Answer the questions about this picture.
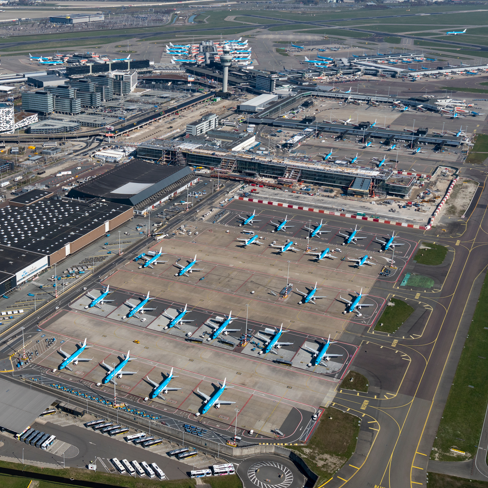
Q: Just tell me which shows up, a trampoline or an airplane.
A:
airplane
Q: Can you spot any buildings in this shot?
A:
Yes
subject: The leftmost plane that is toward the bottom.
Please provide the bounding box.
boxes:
[59,339,95,369]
